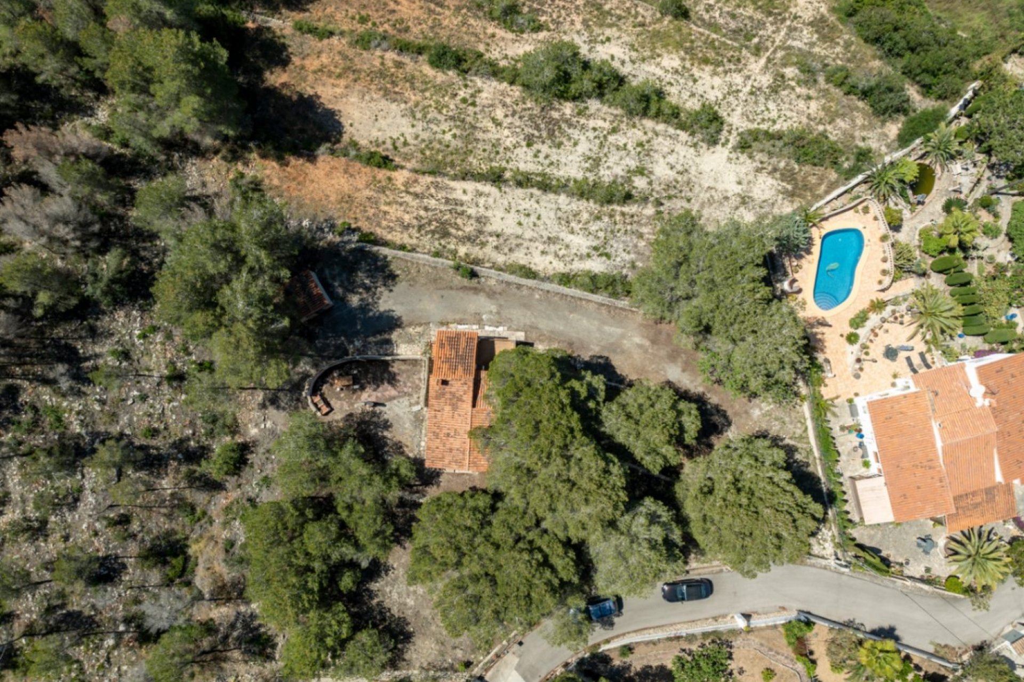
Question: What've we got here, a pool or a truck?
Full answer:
There is a pool in the scene.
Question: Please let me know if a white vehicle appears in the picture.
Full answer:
No, I can't see a single white vehicle in this photo.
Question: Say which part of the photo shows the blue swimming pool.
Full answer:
The blue swimming pool is located in the right region of the scene.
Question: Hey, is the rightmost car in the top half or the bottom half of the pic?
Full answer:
It is in the bottom half that the rightmost car appears.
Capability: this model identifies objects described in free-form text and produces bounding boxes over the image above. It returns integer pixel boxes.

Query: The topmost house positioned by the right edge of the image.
[844,343,1024,533]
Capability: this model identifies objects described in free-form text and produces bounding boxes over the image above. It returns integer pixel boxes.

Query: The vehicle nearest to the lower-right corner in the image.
[661,576,714,604]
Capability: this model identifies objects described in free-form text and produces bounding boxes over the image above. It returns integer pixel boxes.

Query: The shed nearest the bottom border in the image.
[987,617,1024,657]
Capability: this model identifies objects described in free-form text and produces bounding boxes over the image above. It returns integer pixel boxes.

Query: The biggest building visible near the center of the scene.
[425,324,525,474]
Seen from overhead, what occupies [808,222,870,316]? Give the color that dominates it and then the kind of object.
blue swimming pool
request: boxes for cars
[581,595,623,625]
[661,576,714,604]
